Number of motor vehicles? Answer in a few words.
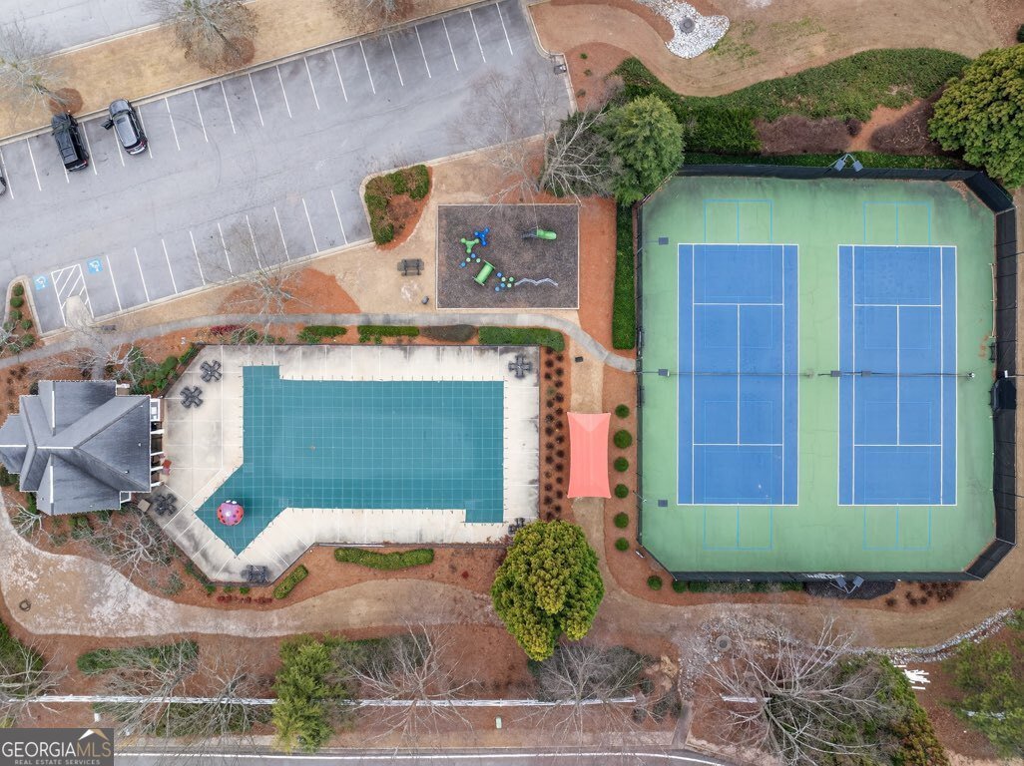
2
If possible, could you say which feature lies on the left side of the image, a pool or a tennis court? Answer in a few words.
pool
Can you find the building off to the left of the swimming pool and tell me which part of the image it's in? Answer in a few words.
left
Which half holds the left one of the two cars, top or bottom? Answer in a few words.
top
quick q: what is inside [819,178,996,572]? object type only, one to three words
tennis court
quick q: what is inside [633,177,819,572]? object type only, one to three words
tennis court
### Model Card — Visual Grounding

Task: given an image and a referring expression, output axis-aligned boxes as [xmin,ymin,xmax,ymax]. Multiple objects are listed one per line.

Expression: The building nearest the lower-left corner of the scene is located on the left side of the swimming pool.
[0,379,170,517]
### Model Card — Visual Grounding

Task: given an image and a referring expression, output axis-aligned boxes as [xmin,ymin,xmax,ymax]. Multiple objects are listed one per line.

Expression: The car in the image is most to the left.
[48,108,87,168]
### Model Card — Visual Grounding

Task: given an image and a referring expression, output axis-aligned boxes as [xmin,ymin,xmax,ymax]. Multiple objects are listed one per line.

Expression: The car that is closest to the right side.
[103,98,145,154]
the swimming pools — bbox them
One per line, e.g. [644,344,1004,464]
[194,361,508,555]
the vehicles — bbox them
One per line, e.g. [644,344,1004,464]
[103,98,145,154]
[48,108,87,168]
